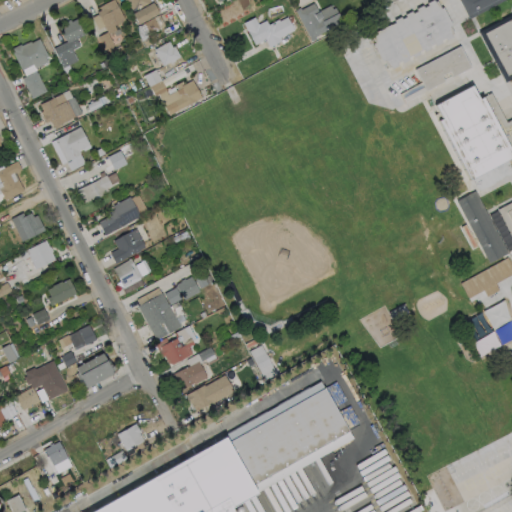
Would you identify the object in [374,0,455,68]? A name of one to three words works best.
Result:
building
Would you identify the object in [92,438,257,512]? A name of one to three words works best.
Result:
building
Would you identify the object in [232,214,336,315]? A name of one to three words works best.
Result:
baseball field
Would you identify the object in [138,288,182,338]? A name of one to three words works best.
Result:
house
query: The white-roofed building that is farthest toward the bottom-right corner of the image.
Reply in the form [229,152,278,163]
[476,332,502,356]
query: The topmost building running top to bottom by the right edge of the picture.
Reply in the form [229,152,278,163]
[481,12,512,78]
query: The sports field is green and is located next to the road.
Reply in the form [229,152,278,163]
[144,36,512,502]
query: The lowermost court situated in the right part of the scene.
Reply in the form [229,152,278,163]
[424,431,512,512]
